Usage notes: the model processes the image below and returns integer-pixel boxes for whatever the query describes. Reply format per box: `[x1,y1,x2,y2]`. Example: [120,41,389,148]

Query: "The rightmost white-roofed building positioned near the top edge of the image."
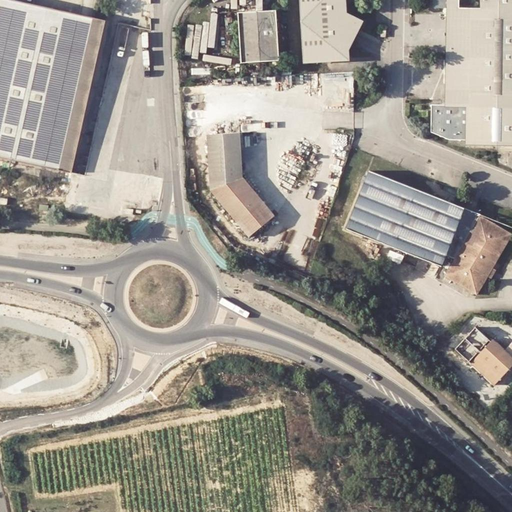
[445,0,512,146]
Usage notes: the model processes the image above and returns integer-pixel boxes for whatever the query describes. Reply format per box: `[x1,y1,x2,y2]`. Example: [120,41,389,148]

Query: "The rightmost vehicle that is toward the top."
[306,182,318,199]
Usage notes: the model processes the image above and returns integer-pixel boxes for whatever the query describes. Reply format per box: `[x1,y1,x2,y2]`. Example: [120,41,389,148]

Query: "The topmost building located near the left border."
[0,0,105,172]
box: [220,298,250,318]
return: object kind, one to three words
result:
bus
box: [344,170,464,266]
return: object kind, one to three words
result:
building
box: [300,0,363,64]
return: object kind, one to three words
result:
building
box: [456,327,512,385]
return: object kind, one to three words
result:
house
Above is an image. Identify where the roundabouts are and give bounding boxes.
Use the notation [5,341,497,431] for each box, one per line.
[102,238,217,354]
